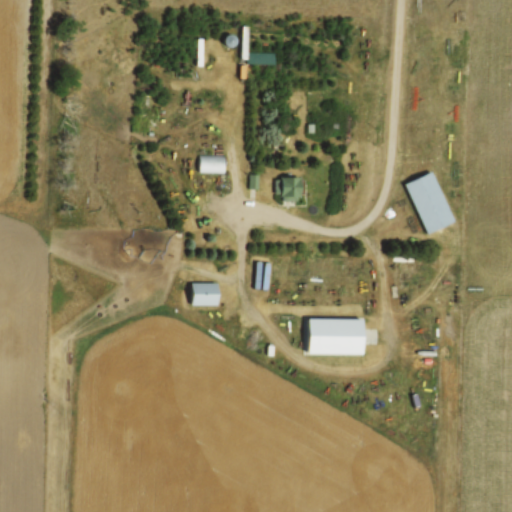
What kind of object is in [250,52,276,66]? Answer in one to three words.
shed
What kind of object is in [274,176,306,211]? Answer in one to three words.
house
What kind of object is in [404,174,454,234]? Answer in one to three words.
shed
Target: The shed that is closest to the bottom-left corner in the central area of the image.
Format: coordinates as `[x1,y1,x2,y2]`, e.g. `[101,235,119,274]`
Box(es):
[190,283,220,306]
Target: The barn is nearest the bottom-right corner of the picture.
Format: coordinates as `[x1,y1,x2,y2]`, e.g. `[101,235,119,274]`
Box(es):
[306,318,366,356]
